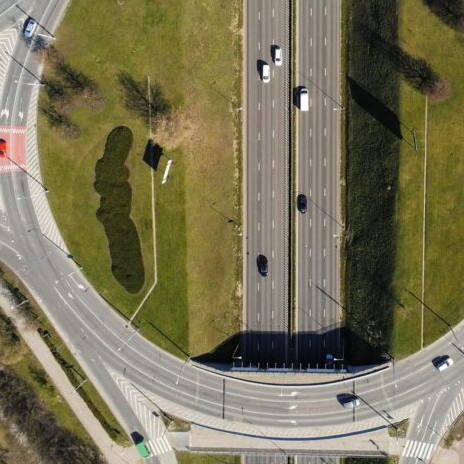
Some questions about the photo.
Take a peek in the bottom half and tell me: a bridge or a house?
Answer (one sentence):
The one visible in the bottom half is a bridge.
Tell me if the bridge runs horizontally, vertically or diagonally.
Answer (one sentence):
The bridge is oriented horizontally.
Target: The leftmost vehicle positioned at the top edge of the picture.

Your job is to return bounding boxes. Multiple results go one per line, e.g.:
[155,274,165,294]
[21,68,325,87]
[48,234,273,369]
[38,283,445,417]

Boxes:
[24,20,37,37]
